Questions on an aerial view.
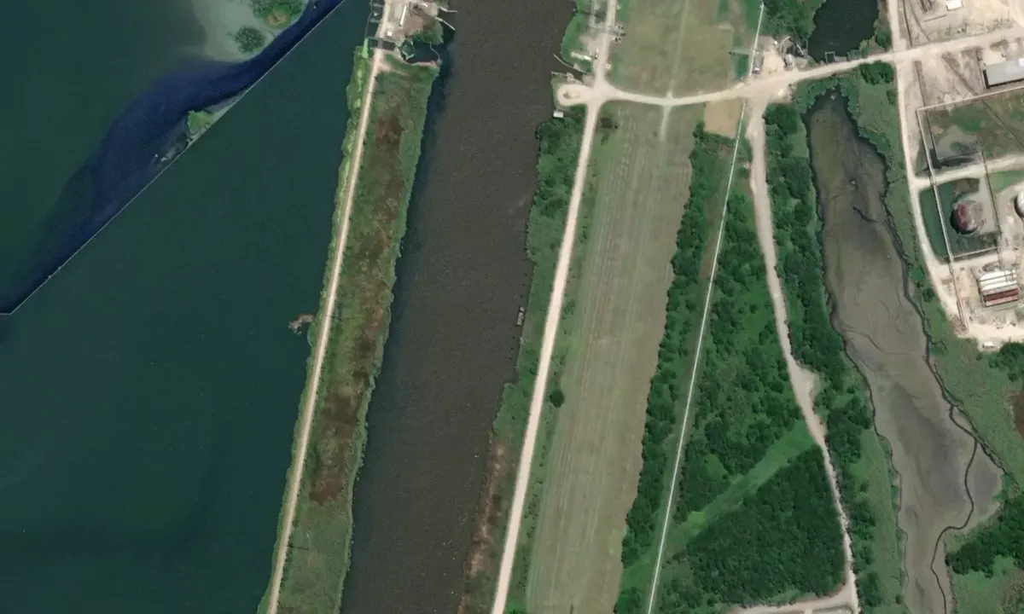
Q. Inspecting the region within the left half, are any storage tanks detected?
No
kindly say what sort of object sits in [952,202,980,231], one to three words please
storage tank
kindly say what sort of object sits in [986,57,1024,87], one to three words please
building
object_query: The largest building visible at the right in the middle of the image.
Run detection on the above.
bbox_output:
[980,269,1020,307]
